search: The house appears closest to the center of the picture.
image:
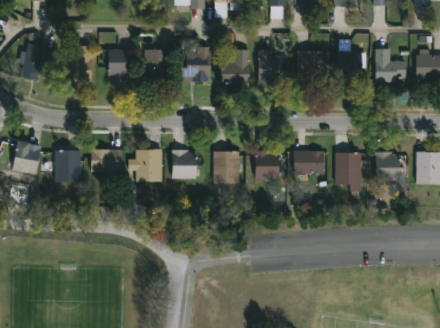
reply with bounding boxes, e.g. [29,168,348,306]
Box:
[213,150,240,184]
